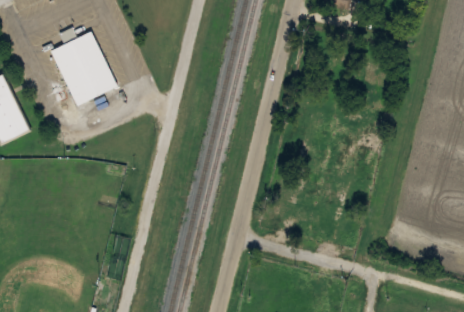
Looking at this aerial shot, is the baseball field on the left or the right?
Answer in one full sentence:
You can find the baseball field on the left side of the picture.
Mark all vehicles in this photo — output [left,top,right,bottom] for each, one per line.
[75,26,85,34]
[270,71,275,82]
[120,90,127,101]
[43,44,54,51]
